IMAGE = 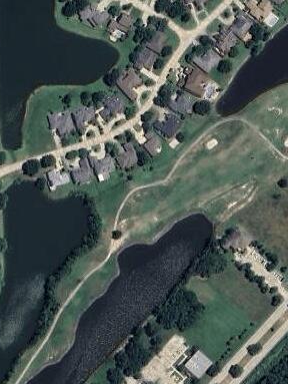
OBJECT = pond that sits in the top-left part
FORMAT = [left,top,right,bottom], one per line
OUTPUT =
[0,0,119,149]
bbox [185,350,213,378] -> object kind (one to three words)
building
